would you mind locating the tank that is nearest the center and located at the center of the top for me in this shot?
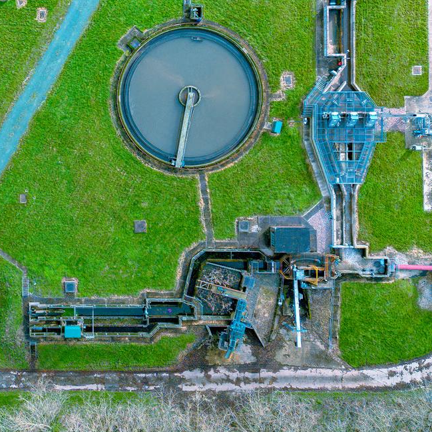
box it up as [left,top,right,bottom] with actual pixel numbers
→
[116,20,261,171]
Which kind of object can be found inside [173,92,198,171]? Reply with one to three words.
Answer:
bridge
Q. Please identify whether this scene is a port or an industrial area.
industrial area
